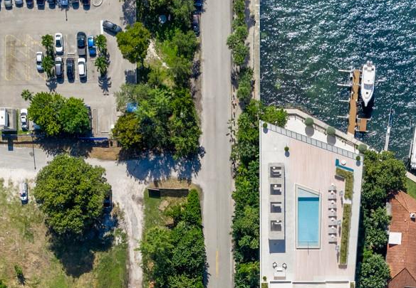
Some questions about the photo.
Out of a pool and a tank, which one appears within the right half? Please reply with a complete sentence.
There is a pool within the right half.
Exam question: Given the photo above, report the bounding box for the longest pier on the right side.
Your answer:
[349,66,361,137]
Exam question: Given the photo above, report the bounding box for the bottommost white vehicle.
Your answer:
[18,179,30,203]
